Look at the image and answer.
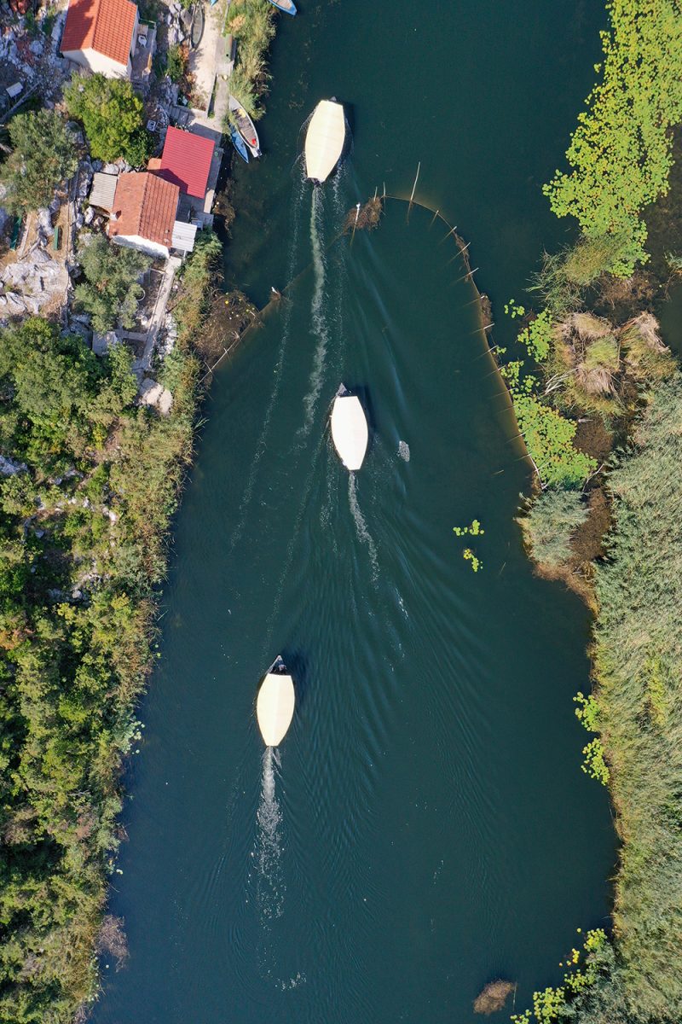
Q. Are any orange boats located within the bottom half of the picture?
No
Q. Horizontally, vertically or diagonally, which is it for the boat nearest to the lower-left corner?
vertically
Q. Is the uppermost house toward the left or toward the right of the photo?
left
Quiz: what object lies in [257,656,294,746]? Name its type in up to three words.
boat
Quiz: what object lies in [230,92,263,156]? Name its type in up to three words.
boat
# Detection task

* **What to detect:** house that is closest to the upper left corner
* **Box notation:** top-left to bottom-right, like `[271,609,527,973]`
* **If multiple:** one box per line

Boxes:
[60,0,143,81]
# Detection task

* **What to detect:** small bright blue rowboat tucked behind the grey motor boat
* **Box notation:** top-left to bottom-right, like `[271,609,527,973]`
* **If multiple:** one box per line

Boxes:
[226,122,248,163]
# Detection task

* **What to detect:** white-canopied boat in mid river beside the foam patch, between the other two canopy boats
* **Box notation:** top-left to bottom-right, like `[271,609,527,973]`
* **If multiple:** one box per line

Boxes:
[328,384,367,475]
